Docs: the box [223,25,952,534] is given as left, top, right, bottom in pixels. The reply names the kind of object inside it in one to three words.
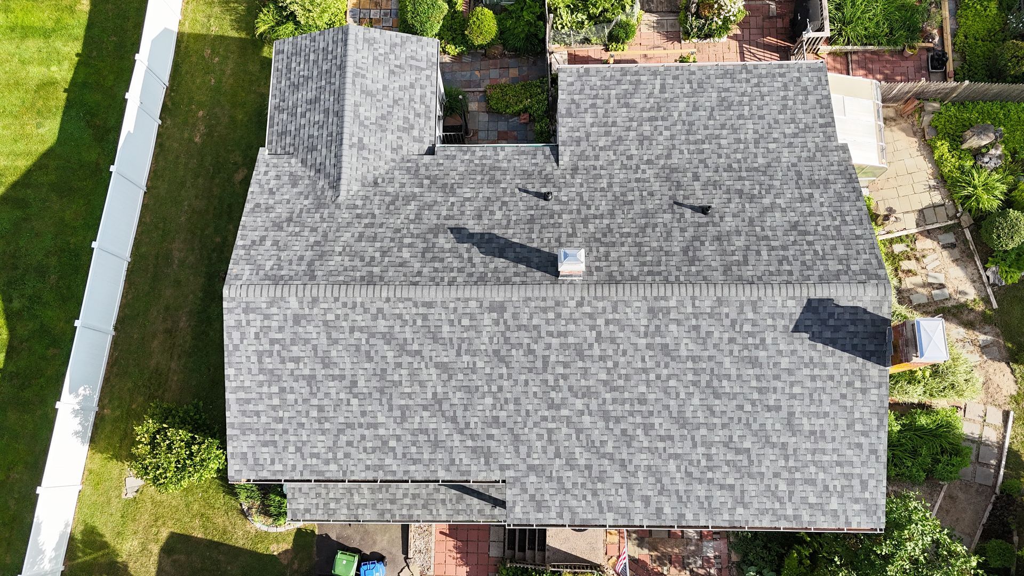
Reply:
house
